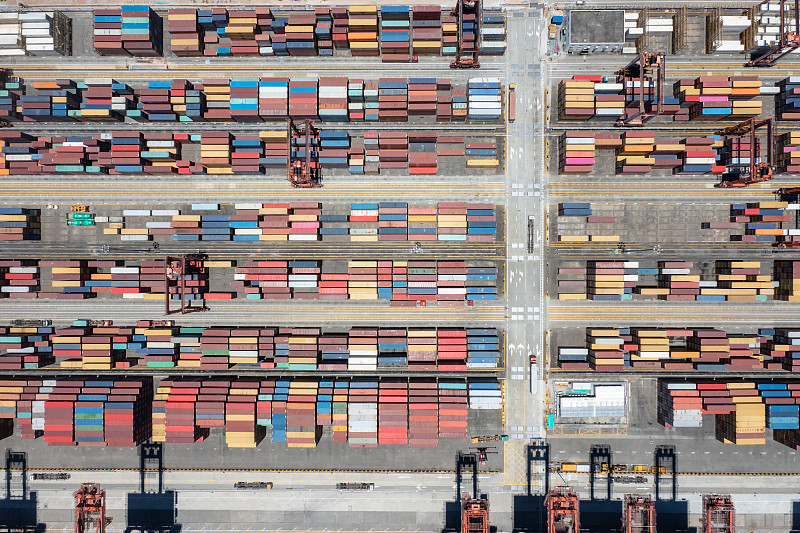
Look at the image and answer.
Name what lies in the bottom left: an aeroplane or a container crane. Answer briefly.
container crane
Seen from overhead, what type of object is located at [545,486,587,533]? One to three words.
container crane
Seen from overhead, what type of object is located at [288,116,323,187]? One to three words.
container crane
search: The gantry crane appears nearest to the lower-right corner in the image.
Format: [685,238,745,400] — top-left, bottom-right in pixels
[701,495,738,533]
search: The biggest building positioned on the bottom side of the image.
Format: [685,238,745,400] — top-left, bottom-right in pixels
[555,380,624,417]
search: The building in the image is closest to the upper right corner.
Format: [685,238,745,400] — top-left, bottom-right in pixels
[565,10,624,52]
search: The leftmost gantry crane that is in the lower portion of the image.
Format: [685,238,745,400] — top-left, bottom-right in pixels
[71,484,124,533]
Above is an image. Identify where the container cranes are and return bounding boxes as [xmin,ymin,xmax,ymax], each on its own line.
[616,48,661,126]
[622,494,659,533]
[716,115,774,187]
[745,0,800,65]
[457,488,501,533]
[71,484,124,533]
[701,495,738,533]
[545,486,587,533]
[288,116,323,187]
[450,0,482,66]
[165,252,210,318]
